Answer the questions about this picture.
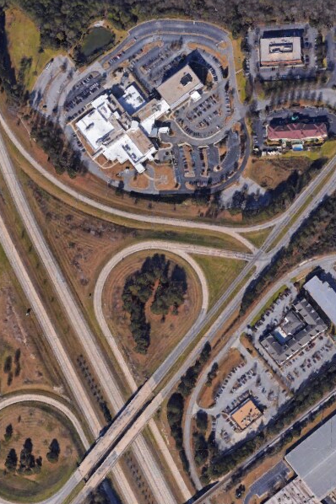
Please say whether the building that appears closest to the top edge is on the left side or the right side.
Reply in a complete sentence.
The building that appears closest to the top edge sits on the right side.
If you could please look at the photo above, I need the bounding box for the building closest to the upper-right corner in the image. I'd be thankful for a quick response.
[260,38,303,67]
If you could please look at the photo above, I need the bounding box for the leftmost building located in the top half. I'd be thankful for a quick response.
[76,66,204,173]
